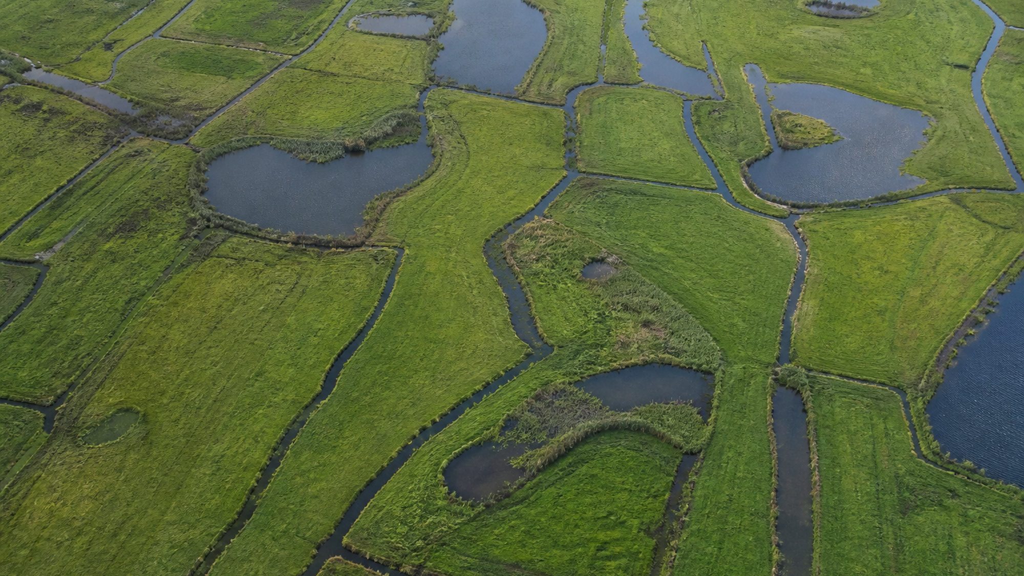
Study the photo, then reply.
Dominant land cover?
grass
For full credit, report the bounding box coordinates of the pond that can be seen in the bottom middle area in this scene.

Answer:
[444,363,715,501]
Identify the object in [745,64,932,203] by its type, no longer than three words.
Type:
pond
